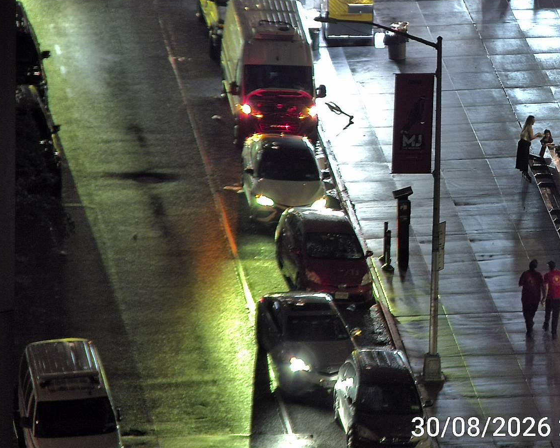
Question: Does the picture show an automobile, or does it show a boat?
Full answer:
Looking from above, you can make out an automobile.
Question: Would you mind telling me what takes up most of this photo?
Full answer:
The bulk of the photo consists of paved ground.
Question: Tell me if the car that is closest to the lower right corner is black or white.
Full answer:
In this view, the car that is closest to the lower right corner is black.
